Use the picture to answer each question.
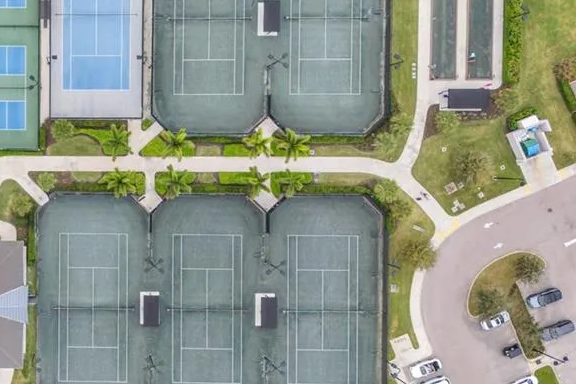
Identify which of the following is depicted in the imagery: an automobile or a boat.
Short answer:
automobile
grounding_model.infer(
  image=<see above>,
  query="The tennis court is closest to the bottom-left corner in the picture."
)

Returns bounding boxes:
[37,194,151,384]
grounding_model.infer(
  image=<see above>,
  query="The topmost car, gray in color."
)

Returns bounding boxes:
[526,288,563,307]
